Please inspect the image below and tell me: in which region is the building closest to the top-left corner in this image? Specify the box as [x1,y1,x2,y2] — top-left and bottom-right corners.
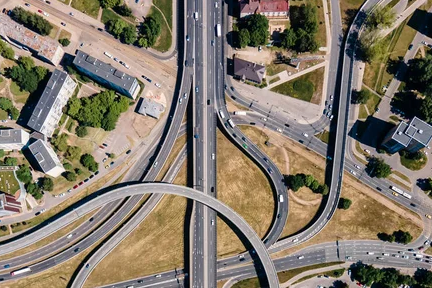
[0,15,64,68]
